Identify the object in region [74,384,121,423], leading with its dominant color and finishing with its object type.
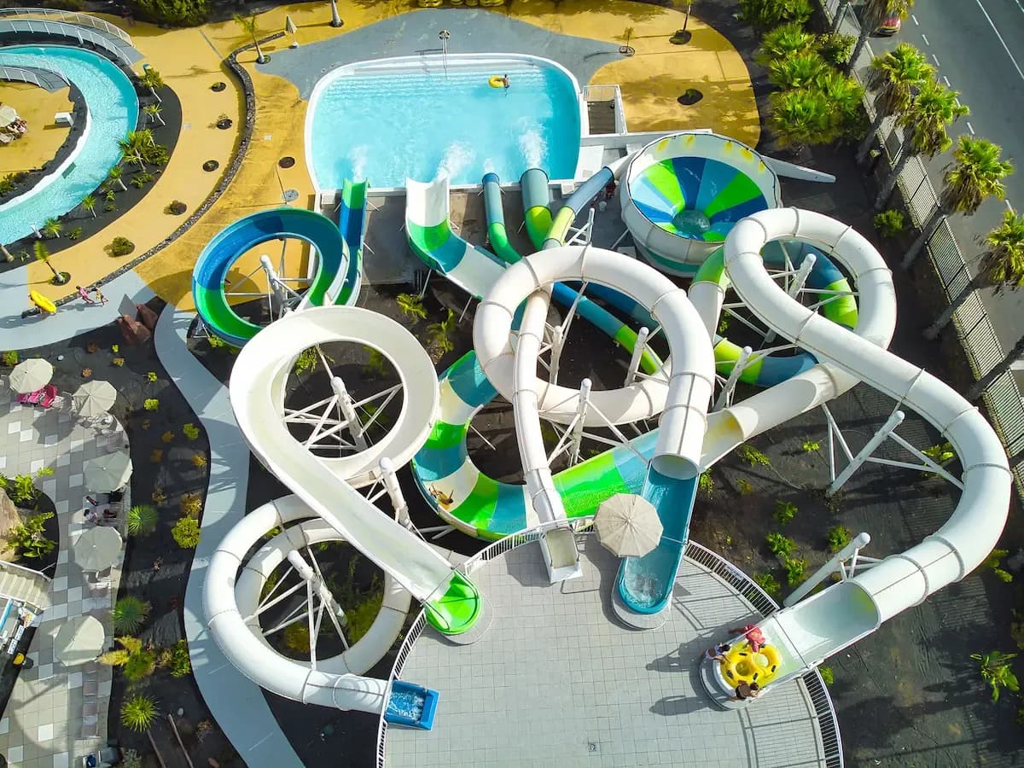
white umbrella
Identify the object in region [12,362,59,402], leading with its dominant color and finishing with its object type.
white umbrella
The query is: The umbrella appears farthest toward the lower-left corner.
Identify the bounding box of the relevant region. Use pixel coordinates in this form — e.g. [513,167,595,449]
[54,615,114,672]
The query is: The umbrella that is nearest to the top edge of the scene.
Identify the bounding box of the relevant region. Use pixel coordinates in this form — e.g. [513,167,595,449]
[286,18,298,49]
